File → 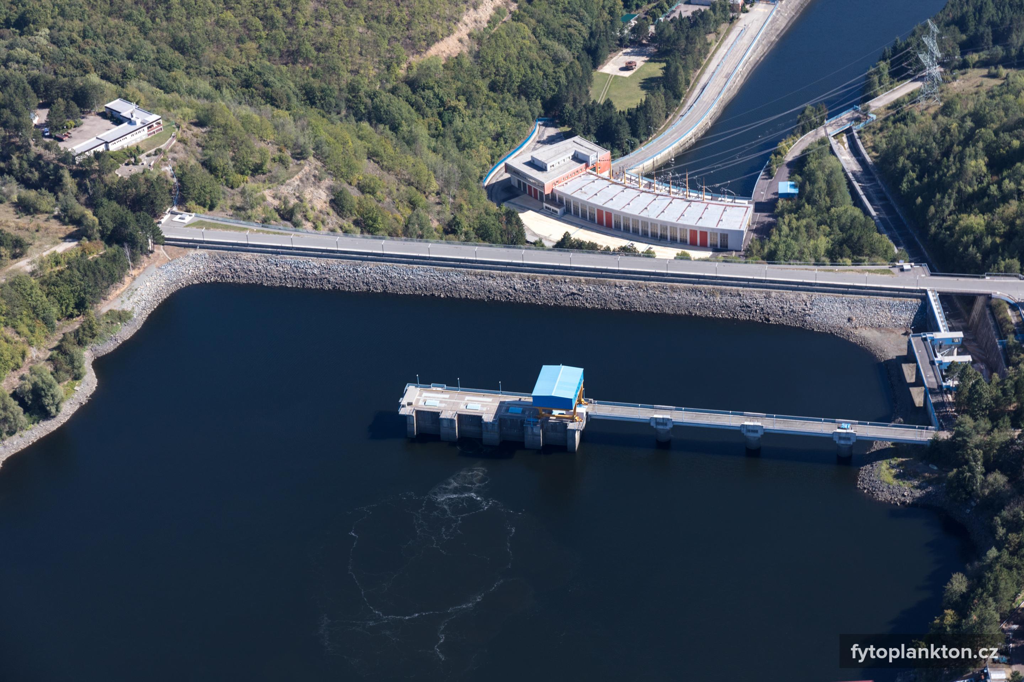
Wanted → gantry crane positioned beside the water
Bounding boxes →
[532,361,589,422]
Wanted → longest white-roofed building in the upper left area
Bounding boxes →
[68,98,163,159]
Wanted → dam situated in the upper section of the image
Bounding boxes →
[158,212,930,329]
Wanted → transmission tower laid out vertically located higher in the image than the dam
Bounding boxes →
[921,19,947,94]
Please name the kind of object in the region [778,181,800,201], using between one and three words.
shed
